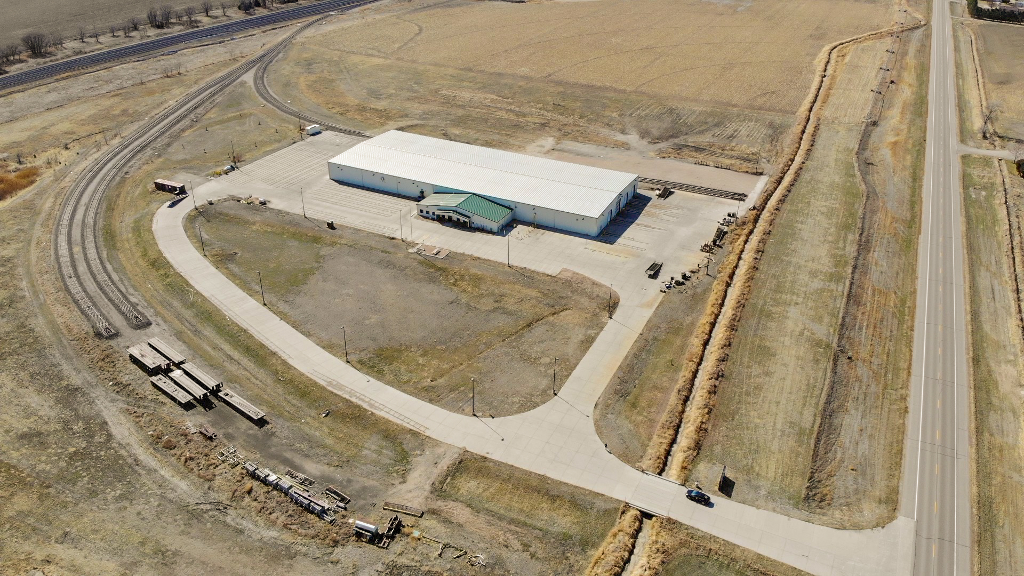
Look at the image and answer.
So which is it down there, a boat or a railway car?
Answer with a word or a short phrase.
railway car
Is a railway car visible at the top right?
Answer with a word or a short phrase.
No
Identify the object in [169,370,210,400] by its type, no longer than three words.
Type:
rail car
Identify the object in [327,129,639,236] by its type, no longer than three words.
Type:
building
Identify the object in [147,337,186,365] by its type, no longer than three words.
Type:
rail car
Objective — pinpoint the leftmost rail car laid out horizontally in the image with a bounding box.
[151,175,185,194]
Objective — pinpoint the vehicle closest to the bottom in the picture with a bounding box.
[686,488,712,503]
